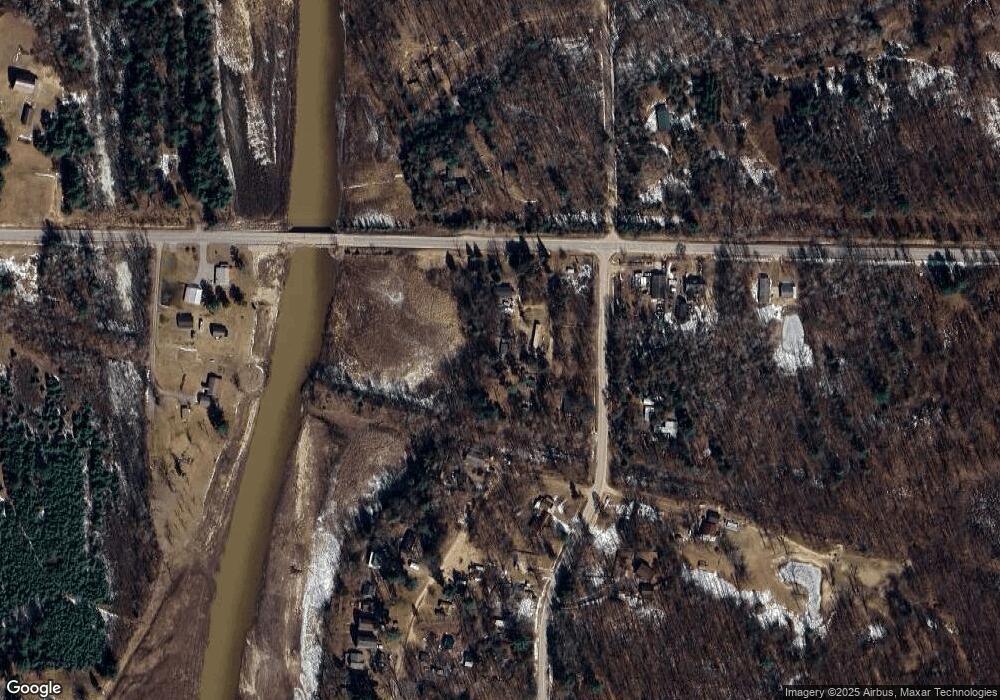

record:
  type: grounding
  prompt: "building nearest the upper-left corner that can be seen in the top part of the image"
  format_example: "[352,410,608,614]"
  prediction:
[12,72,36,91]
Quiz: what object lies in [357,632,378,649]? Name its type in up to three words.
house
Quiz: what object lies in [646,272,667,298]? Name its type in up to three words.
house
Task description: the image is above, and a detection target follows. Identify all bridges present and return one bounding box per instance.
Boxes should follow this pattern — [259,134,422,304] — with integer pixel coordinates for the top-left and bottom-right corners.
[285,230,340,248]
